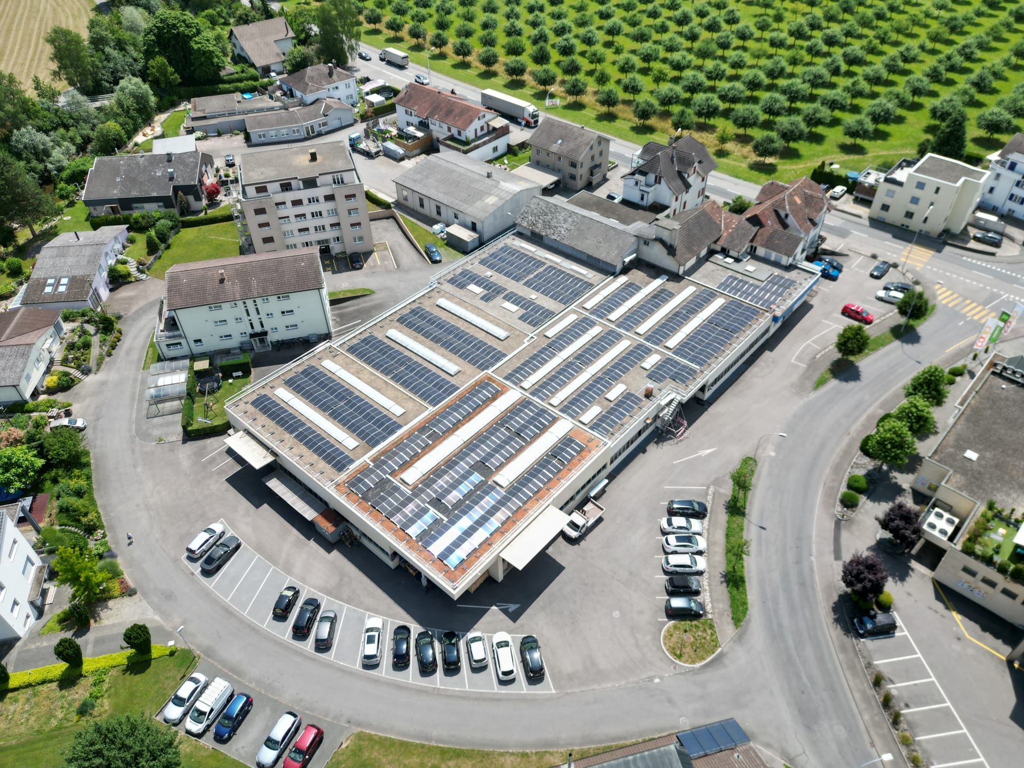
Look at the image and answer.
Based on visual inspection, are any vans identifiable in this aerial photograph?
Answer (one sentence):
Yes, the picture does show a van.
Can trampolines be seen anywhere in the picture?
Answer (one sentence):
Yes, the picture does show a trampoline.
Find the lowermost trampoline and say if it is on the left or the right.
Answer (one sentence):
You can find the lowermost trampoline on the left side of the picture.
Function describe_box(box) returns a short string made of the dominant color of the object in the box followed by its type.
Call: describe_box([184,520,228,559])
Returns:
white car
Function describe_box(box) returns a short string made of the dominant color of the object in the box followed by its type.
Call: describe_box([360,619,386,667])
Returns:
white car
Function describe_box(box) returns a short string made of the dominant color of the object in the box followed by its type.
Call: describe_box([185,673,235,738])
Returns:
white van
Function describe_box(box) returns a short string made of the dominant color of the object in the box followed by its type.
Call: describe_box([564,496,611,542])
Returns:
white truck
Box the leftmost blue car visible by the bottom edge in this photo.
[214,691,255,743]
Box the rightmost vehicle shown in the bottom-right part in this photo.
[850,611,903,637]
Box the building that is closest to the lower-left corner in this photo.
[0,523,66,641]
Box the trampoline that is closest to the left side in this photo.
[191,364,222,390]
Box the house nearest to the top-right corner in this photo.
[980,133,1024,220]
